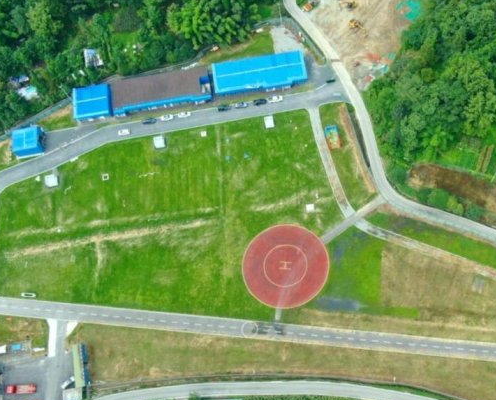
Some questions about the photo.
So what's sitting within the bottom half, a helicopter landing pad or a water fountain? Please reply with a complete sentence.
The one visible within the bottom half is a helicopter landing pad.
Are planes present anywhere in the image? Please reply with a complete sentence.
No, the scene contains no plane.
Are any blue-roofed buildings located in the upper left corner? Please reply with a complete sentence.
Yes, a blue-roofed building appears in the upper left corner.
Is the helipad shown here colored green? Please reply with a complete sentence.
No, the helipad is actually red.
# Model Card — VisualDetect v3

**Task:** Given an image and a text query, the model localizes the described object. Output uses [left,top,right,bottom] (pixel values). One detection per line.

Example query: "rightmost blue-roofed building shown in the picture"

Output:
[211,50,305,96]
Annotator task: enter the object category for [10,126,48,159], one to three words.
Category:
building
